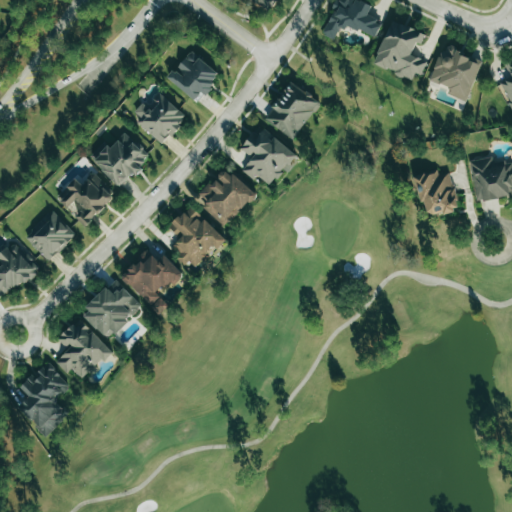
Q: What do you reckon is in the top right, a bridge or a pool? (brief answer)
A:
pool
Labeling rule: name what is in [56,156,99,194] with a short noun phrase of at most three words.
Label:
swimming pool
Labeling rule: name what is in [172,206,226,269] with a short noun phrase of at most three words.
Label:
house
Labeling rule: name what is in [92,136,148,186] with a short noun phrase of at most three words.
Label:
house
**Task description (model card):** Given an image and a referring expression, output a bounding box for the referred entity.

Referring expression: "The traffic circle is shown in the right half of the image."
[470,219,512,264]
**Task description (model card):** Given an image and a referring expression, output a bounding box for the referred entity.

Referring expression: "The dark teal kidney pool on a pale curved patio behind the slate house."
[337,28,370,46]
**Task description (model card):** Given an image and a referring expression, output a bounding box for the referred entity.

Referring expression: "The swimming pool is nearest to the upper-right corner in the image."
[430,80,467,110]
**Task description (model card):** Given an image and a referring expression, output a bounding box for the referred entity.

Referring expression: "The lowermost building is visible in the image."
[19,364,68,434]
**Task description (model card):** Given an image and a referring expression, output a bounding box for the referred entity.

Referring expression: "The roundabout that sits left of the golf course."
[0,308,42,358]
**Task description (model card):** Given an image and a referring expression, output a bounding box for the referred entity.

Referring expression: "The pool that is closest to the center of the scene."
[163,282,182,300]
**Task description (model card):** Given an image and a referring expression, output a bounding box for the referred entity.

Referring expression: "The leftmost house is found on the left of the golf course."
[0,241,38,291]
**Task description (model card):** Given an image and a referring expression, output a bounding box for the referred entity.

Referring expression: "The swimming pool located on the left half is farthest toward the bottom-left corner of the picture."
[92,354,118,386]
